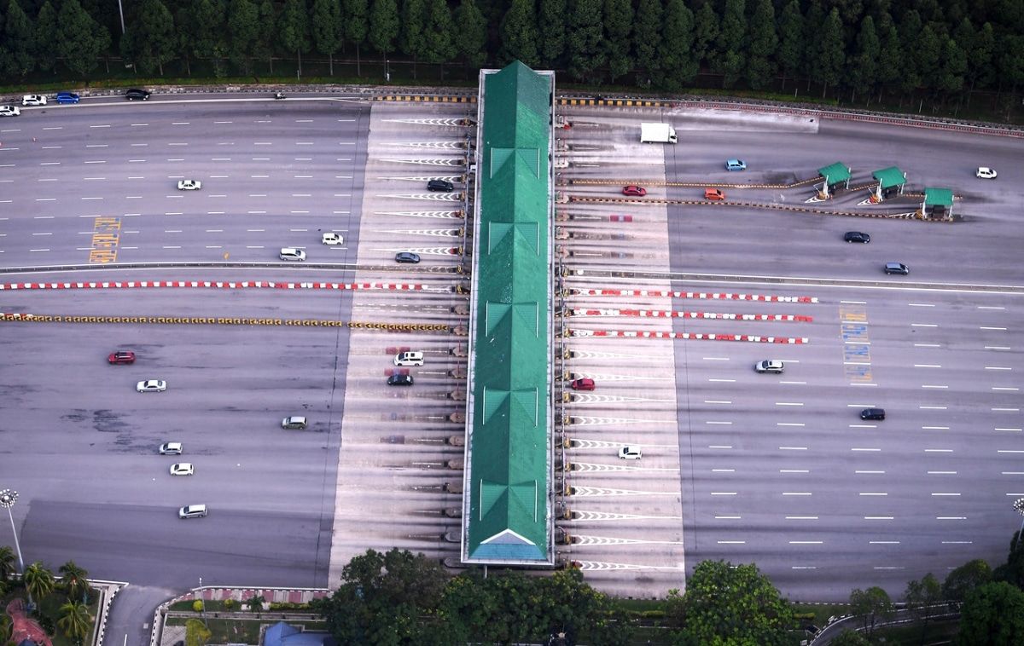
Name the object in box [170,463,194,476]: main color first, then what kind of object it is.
white vehicle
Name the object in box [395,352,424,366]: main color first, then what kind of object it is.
white car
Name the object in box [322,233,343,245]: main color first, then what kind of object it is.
white vehicle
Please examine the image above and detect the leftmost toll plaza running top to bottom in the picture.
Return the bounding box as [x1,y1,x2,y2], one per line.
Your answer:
[462,58,554,585]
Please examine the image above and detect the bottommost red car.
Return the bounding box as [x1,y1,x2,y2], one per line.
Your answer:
[572,379,595,391]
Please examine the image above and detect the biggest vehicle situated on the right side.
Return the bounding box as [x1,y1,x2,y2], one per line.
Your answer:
[639,122,675,144]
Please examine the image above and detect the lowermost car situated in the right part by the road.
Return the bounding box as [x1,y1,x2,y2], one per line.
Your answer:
[619,446,642,459]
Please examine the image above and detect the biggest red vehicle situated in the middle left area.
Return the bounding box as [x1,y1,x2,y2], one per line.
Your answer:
[108,351,136,365]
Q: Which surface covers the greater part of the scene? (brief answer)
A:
paved ground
